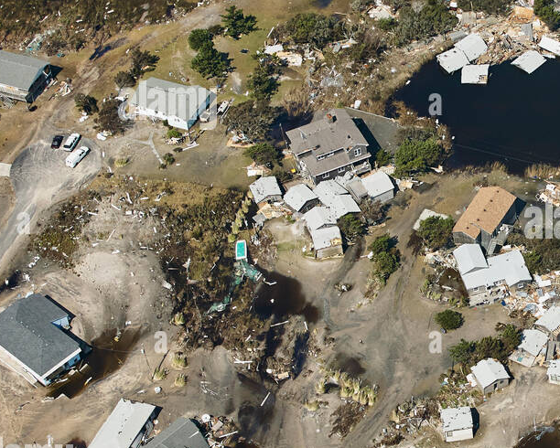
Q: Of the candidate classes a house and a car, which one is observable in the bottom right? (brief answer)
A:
house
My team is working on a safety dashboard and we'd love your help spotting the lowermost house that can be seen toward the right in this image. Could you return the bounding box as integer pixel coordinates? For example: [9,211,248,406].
[443,405,474,441]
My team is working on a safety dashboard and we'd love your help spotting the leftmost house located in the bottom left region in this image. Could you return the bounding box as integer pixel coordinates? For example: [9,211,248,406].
[0,294,89,393]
